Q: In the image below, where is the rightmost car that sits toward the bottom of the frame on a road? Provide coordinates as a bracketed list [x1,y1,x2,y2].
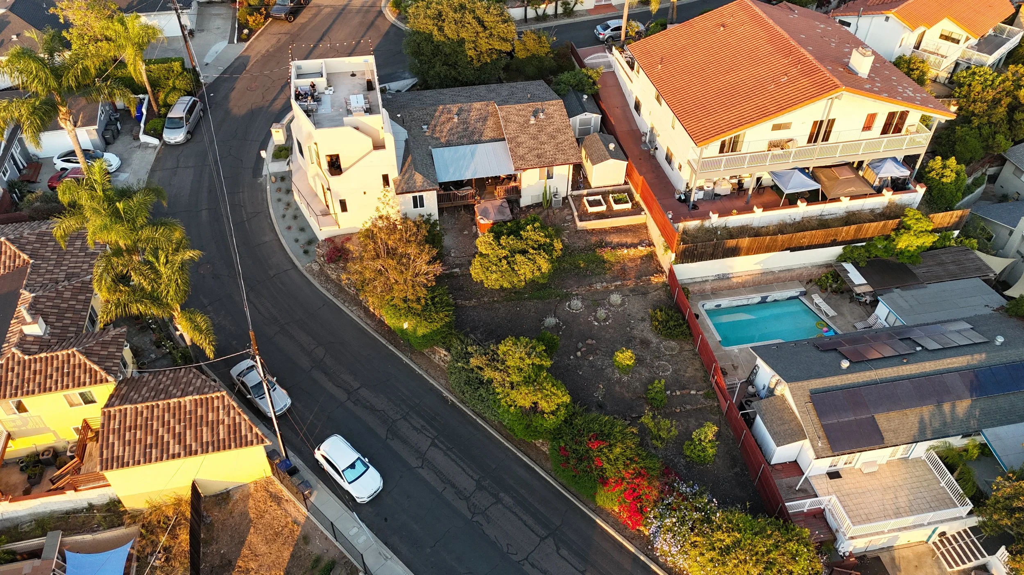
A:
[312,433,383,505]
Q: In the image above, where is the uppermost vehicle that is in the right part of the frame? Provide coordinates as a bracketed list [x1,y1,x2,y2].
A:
[594,19,646,43]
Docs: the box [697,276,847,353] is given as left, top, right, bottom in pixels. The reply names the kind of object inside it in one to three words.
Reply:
swimming pool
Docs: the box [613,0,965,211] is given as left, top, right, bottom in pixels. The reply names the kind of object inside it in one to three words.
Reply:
house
